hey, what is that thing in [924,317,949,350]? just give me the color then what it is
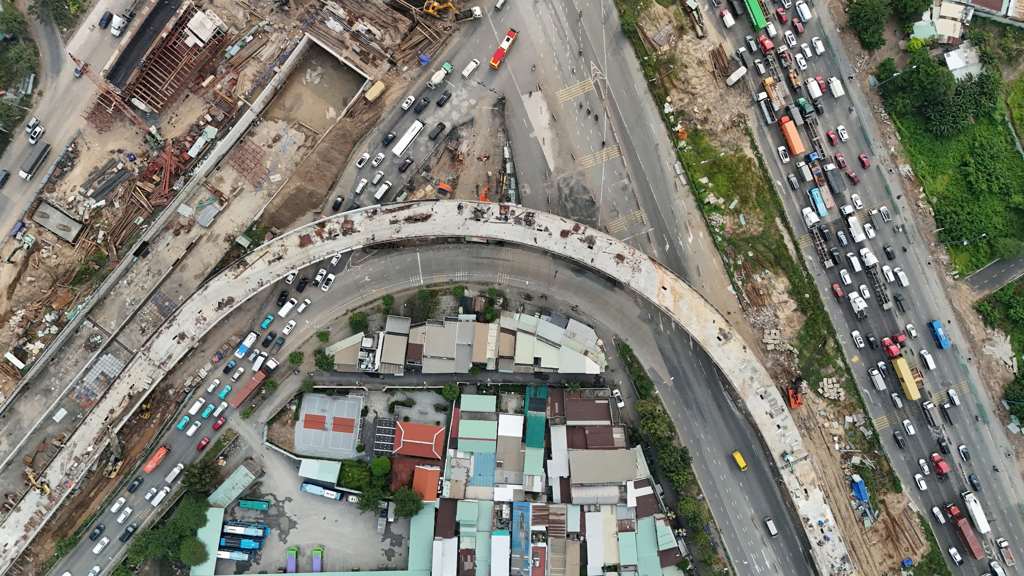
blue bus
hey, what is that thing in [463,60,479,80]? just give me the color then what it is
white vehicle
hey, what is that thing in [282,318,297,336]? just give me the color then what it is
white car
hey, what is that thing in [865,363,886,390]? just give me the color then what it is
white truck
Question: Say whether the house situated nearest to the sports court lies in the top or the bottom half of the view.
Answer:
bottom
